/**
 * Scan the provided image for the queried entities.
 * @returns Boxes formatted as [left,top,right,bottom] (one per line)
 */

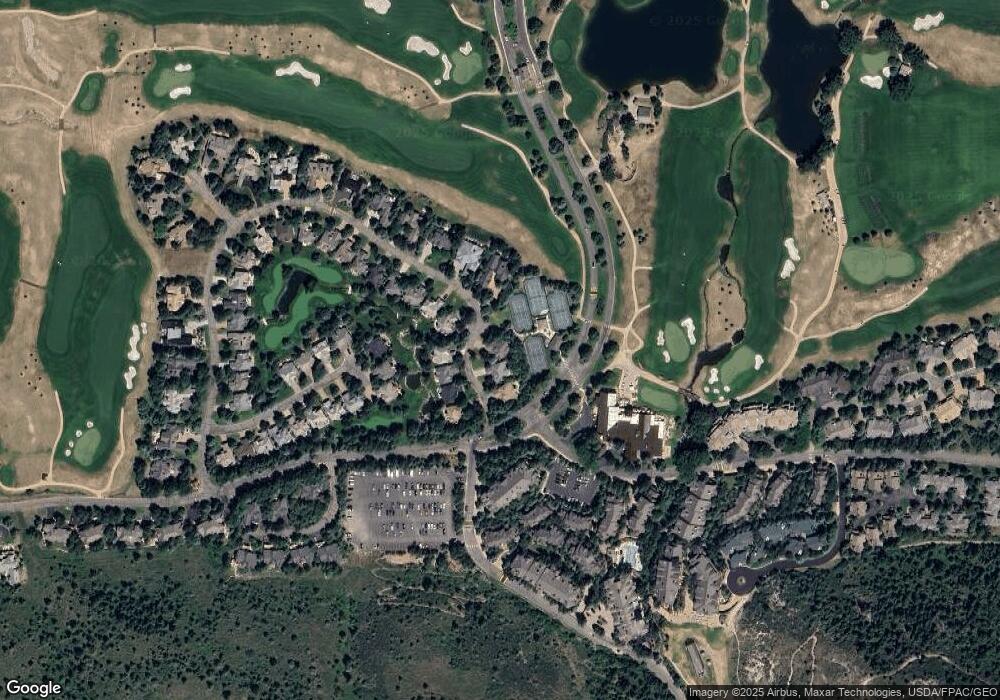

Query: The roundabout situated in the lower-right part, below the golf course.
[728,567,757,596]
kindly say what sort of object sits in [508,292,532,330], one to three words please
tennis court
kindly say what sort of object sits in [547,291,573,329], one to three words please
tennis court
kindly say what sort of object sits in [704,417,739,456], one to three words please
building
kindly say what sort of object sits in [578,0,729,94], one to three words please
pond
